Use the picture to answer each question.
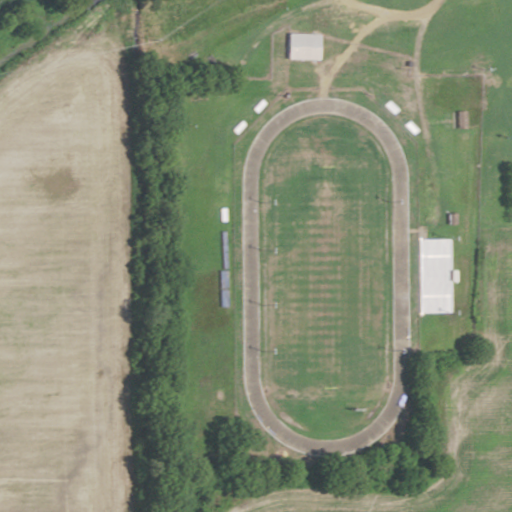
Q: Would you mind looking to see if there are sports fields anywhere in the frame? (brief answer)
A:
Yes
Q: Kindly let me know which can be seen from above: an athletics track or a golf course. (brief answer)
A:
athletics track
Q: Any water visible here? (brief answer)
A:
No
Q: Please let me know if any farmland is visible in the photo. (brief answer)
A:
Yes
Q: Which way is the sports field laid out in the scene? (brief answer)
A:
up and down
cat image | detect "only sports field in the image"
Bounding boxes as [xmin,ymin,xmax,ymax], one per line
[279,167,376,388]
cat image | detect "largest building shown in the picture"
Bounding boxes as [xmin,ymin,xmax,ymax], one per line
[288,31,323,64]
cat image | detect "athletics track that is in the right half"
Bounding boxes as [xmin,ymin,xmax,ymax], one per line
[243,98,409,456]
